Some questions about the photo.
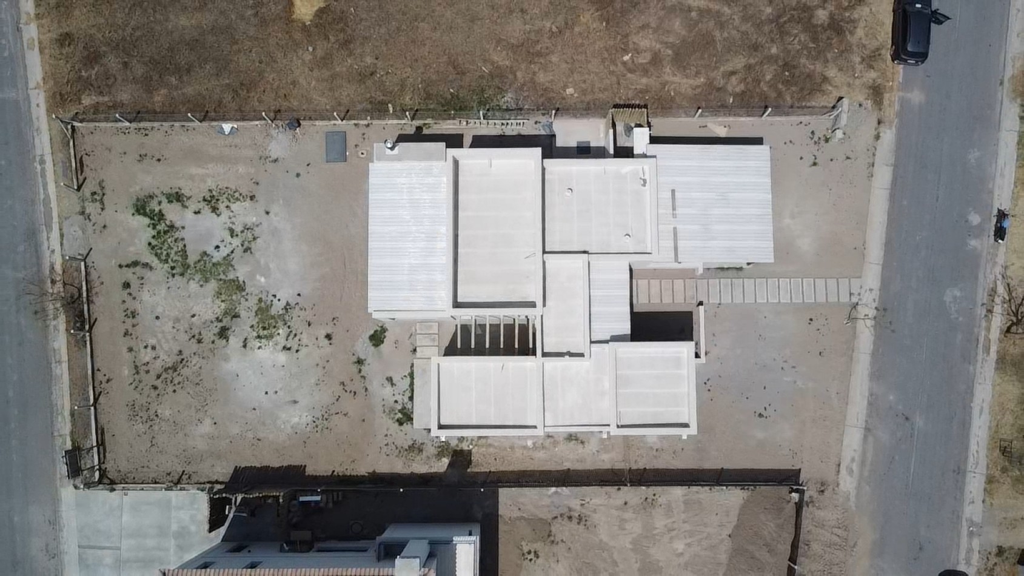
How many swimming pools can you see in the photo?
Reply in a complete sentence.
There are no swimming pools in this view.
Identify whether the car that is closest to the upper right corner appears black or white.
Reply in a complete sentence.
The car that is closest to the upper right corner is black.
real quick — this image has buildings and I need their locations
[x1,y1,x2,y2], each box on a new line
[367,139,774,440]
[170,521,481,576]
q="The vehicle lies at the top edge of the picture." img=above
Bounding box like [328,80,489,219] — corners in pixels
[890,0,947,63]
